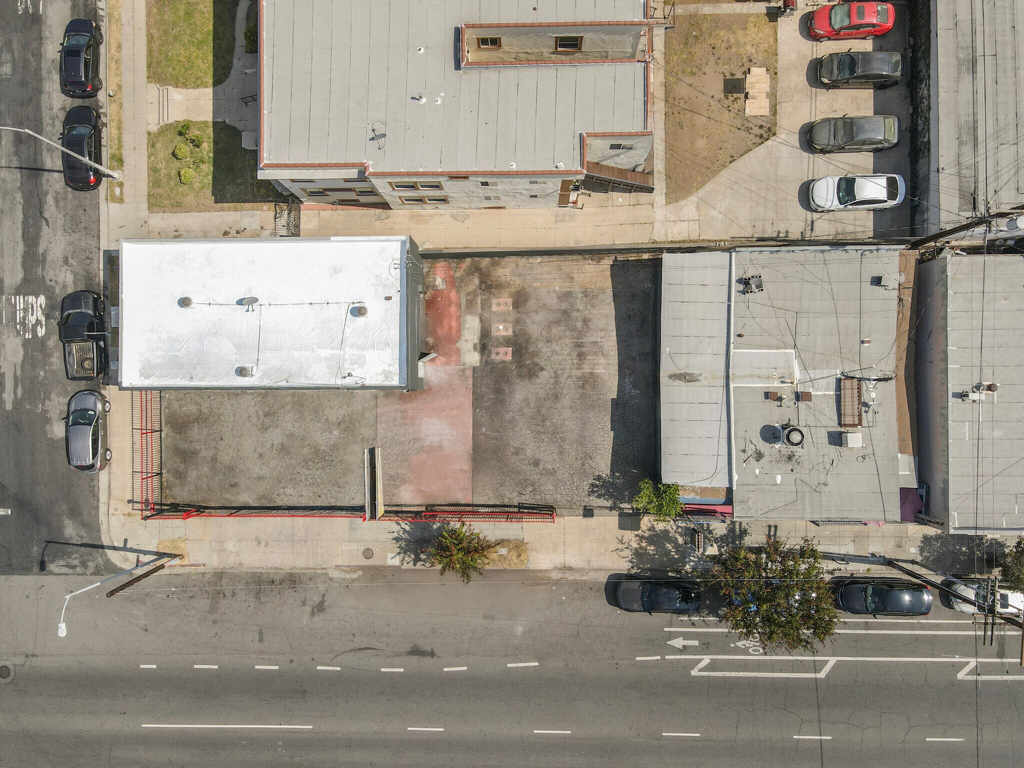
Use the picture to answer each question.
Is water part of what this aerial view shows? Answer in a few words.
No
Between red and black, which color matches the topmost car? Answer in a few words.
red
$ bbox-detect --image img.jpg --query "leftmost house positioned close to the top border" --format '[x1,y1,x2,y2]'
[249,0,666,214]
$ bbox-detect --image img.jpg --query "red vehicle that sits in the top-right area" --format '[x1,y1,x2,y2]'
[810,0,896,42]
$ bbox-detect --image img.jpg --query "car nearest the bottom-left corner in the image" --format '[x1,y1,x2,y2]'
[60,391,113,473]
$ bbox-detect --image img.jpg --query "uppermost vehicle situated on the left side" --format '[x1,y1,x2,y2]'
[54,21,106,96]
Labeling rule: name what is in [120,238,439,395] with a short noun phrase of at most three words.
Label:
building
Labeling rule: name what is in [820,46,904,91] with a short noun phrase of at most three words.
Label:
car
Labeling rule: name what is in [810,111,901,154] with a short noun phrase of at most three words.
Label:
car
